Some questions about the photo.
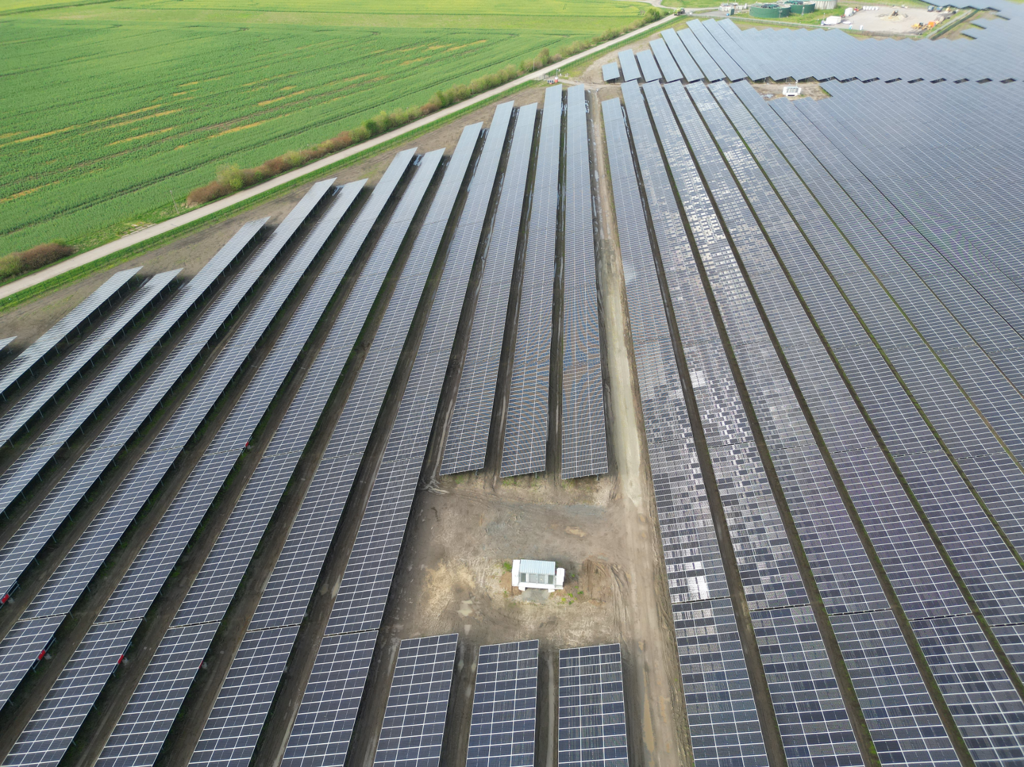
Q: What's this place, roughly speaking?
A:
solar farm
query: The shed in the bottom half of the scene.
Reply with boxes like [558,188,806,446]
[512,557,564,601]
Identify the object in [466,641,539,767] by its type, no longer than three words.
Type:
solar array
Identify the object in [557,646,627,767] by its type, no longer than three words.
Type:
solar array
